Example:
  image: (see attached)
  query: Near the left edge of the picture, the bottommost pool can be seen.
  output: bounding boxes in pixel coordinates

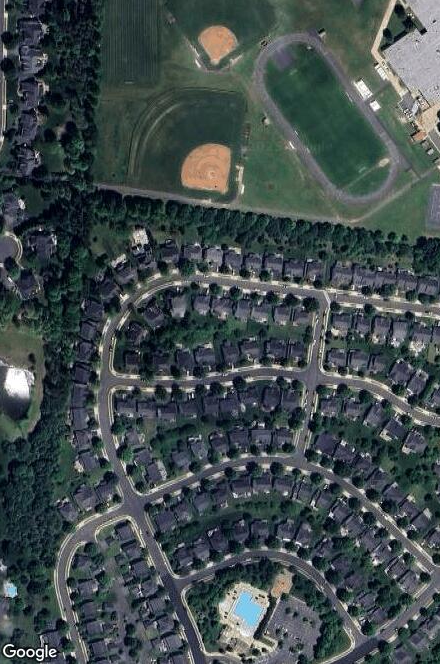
[4,582,18,598]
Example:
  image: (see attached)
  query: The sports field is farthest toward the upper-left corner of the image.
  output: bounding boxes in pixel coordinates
[104,0,160,87]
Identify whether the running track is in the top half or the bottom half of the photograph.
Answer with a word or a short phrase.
top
